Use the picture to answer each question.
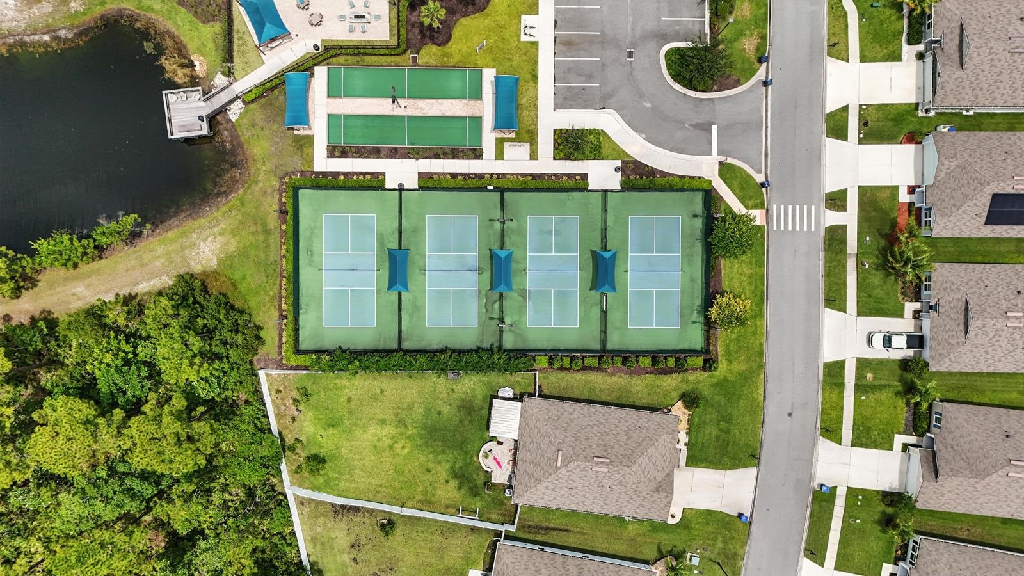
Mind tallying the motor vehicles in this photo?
1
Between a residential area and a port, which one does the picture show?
residential area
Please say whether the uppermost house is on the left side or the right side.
right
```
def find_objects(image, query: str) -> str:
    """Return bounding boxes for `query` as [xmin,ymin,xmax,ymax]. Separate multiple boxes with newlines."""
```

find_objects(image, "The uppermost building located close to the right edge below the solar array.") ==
[913,262,1024,373]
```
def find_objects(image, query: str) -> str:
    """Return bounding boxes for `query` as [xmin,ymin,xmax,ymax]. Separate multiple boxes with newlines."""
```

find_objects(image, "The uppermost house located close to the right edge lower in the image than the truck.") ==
[906,402,1024,516]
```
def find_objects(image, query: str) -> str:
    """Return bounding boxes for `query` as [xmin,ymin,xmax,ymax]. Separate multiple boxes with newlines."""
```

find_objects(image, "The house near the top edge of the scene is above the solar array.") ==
[921,0,1024,113]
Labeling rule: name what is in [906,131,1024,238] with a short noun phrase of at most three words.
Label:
house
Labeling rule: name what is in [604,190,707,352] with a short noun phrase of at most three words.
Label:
sports court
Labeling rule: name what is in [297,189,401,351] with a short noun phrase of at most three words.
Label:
sports court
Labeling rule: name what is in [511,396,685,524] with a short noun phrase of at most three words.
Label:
house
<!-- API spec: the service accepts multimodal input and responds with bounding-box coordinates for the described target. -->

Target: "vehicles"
[870,330,925,352]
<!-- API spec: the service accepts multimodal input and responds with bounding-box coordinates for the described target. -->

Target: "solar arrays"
[985,193,1024,225]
